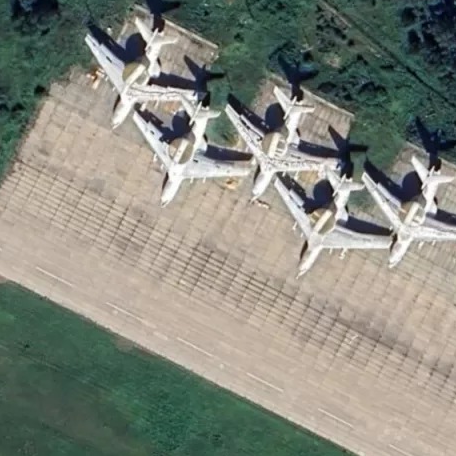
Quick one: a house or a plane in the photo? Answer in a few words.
plane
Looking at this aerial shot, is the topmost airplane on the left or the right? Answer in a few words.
left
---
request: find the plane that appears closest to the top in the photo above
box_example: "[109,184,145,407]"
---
[85,18,203,133]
